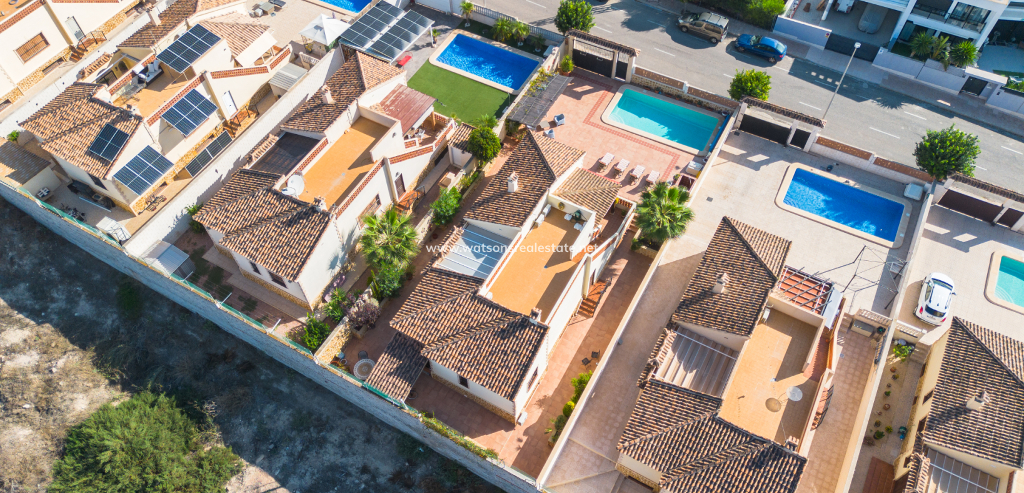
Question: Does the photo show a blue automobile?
Yes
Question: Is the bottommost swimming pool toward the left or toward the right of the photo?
right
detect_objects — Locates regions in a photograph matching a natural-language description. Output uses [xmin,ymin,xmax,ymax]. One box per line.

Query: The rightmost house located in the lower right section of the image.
[894,315,1024,493]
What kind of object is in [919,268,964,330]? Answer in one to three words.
car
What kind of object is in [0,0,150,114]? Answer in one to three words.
house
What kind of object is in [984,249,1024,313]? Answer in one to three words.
swimming pool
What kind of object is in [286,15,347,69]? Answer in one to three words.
gazebo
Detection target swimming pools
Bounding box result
[984,249,1024,313]
[773,161,913,249]
[427,29,540,93]
[600,83,726,158]
[309,0,375,18]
